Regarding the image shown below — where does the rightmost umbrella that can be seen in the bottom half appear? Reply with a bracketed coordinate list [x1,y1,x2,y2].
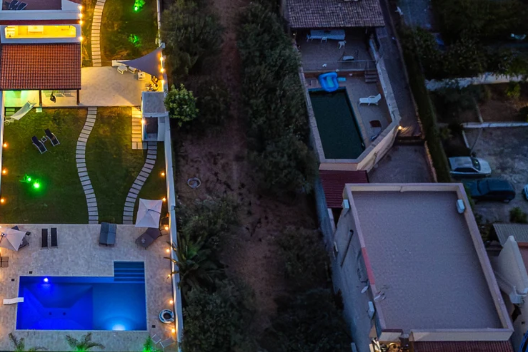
[135,199,170,231]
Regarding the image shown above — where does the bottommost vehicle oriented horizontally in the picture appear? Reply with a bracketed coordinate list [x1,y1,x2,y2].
[464,177,519,203]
